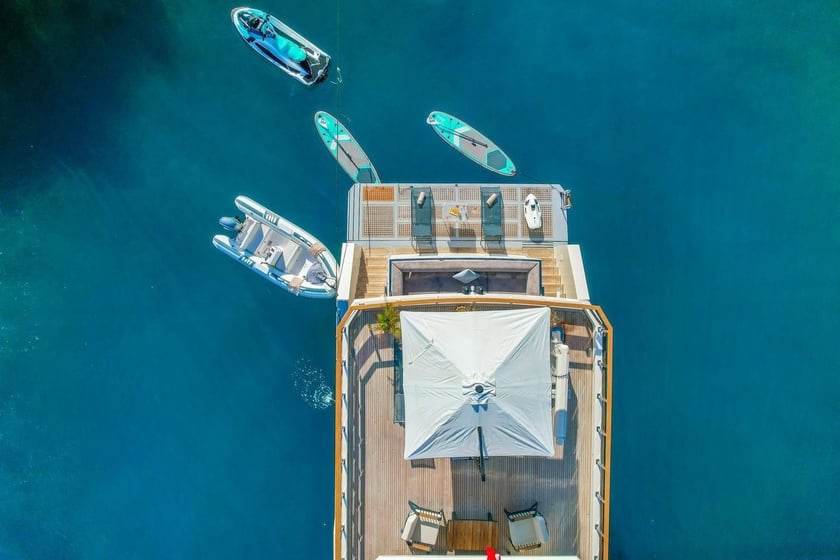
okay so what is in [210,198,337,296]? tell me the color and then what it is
white boat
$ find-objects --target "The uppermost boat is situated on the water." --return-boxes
[229,4,329,85]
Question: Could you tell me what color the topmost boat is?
blue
